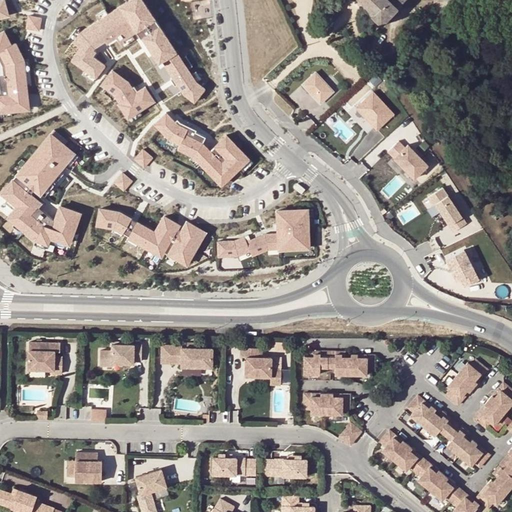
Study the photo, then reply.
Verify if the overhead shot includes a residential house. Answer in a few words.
Yes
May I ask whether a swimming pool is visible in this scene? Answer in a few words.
Yes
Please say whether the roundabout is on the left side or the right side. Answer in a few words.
right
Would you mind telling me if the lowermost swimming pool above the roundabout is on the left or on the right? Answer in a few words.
right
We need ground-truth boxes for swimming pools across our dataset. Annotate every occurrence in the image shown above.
[397,202,420,225]
[173,398,202,413]
[326,112,356,144]
[496,284,512,299]
[17,385,53,407]
[380,174,406,200]
[88,382,114,408]
[270,386,290,418]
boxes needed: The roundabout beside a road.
[328,241,412,326]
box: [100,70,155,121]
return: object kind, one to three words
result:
building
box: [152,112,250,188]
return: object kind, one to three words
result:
building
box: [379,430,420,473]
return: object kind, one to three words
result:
house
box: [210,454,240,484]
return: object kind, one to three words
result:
house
